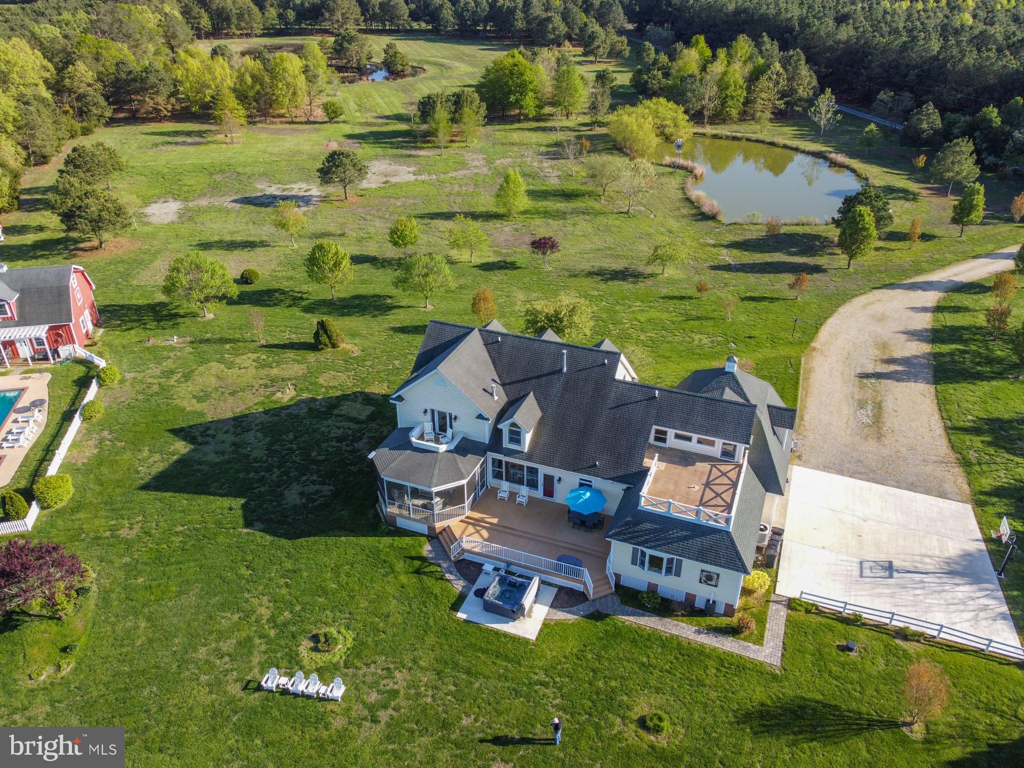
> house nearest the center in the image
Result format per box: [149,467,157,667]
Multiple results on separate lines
[358,319,798,616]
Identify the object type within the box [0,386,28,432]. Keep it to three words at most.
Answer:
swimming pool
